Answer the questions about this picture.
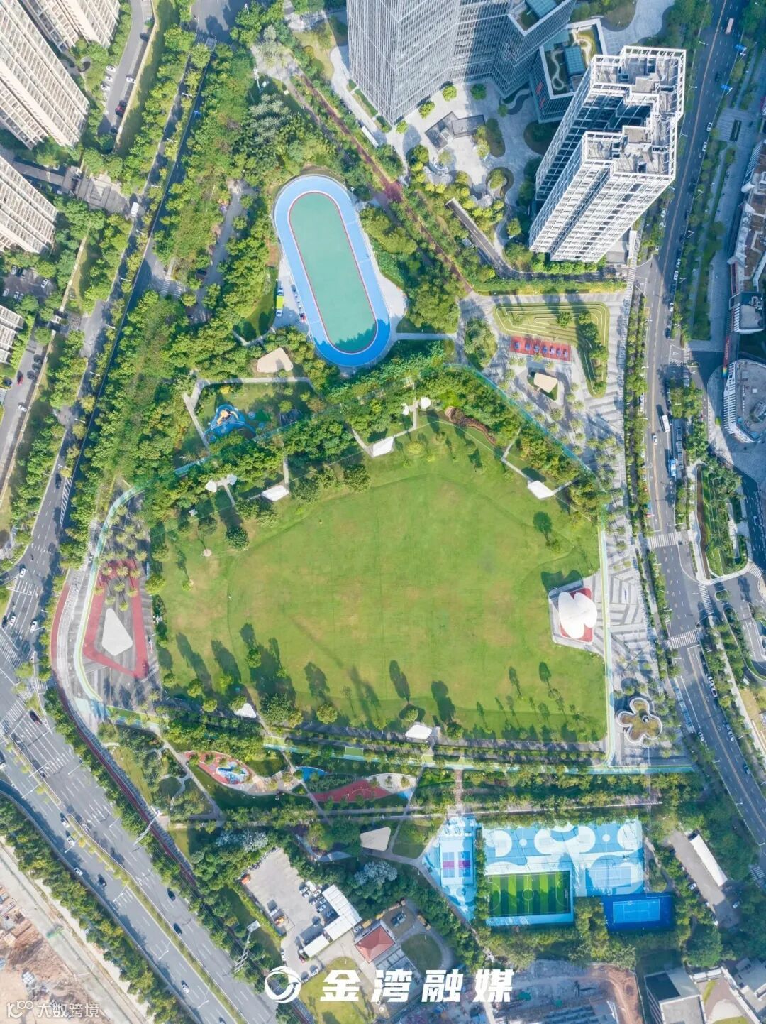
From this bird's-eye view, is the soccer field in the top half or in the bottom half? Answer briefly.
bottom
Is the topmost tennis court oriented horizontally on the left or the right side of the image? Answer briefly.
right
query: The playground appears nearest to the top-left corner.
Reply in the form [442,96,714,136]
[204,404,260,441]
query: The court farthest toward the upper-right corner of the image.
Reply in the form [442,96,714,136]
[510,336,572,361]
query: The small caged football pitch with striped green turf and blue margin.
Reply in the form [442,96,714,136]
[486,871,573,926]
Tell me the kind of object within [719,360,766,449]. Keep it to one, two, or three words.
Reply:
building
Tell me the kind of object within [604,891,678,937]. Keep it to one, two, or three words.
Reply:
tennis court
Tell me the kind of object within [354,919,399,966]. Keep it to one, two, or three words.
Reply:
house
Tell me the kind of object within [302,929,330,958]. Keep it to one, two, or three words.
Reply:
shed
